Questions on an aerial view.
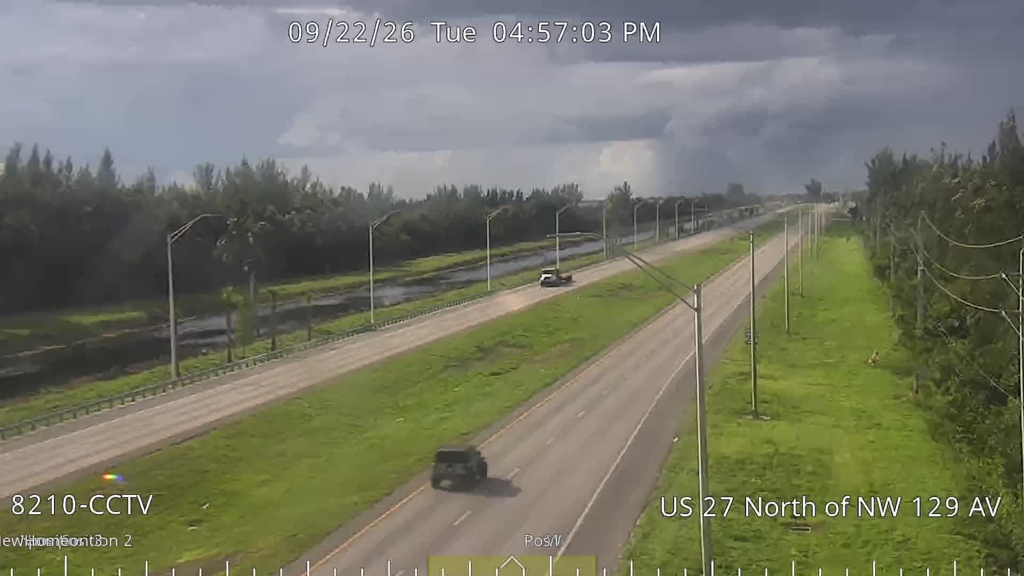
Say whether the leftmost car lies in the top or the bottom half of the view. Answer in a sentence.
The bottom half of the photo is where the leftmost car is.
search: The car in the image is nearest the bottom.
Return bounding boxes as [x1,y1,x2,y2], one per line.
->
[429,443,486,488]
